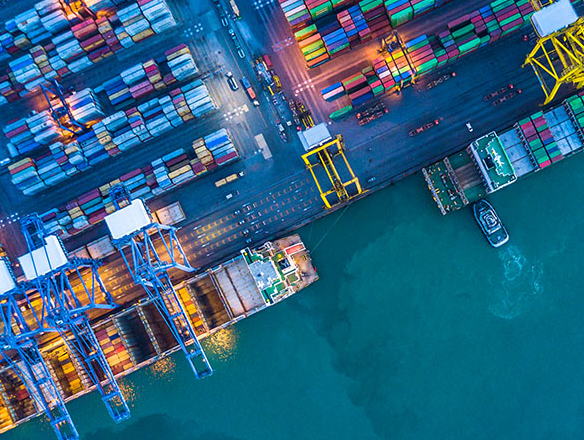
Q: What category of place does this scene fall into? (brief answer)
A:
port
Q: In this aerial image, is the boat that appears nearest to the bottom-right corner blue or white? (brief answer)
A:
blue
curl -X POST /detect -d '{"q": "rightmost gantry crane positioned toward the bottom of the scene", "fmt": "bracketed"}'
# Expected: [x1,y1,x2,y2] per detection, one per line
[104,183,213,384]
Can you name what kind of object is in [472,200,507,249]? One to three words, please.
boat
